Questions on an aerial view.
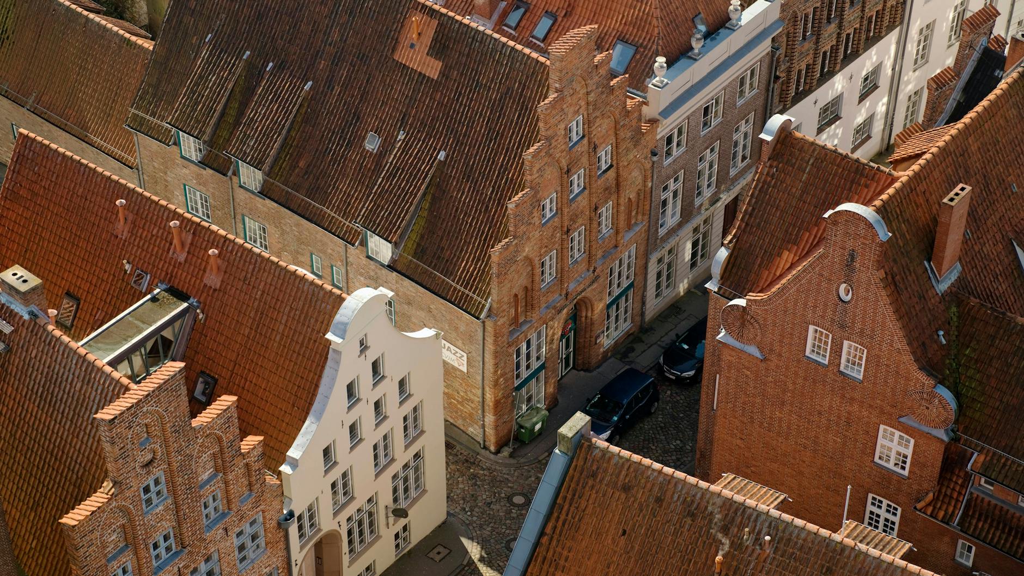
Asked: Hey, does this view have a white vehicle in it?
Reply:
No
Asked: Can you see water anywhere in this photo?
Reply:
No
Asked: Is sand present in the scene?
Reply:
No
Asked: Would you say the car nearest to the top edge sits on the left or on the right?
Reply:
right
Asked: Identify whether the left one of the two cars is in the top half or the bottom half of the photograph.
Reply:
bottom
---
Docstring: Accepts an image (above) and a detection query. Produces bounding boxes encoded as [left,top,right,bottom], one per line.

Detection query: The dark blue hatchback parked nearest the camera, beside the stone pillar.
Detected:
[578,368,663,446]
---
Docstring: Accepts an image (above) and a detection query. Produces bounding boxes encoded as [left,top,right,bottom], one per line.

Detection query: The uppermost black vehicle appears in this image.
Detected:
[654,312,704,393]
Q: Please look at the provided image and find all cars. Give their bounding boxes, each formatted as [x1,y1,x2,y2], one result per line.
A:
[578,368,663,446]
[654,312,704,393]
